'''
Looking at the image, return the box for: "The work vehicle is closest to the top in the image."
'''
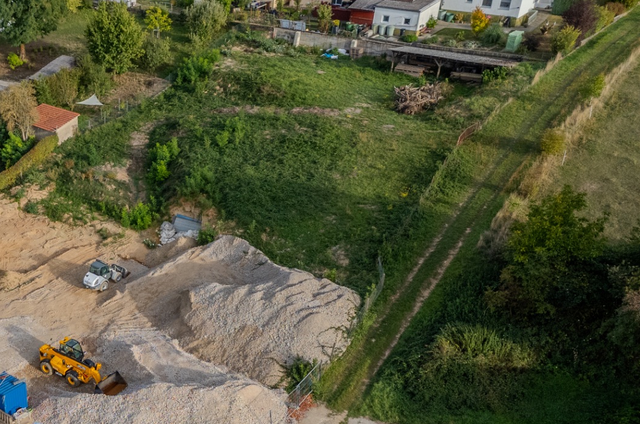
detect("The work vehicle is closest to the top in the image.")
[79,254,134,293]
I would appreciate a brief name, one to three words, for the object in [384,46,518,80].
shed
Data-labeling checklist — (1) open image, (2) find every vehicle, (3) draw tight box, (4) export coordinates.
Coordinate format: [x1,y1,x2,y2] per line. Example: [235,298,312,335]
[34,336,123,395]
[79,254,134,293]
